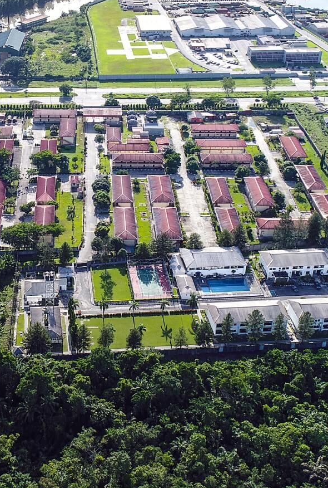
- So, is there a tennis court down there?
Yes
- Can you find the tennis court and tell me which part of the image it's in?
center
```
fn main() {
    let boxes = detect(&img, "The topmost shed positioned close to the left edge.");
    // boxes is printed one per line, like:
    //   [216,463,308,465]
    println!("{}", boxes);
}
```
[0,27,23,64]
